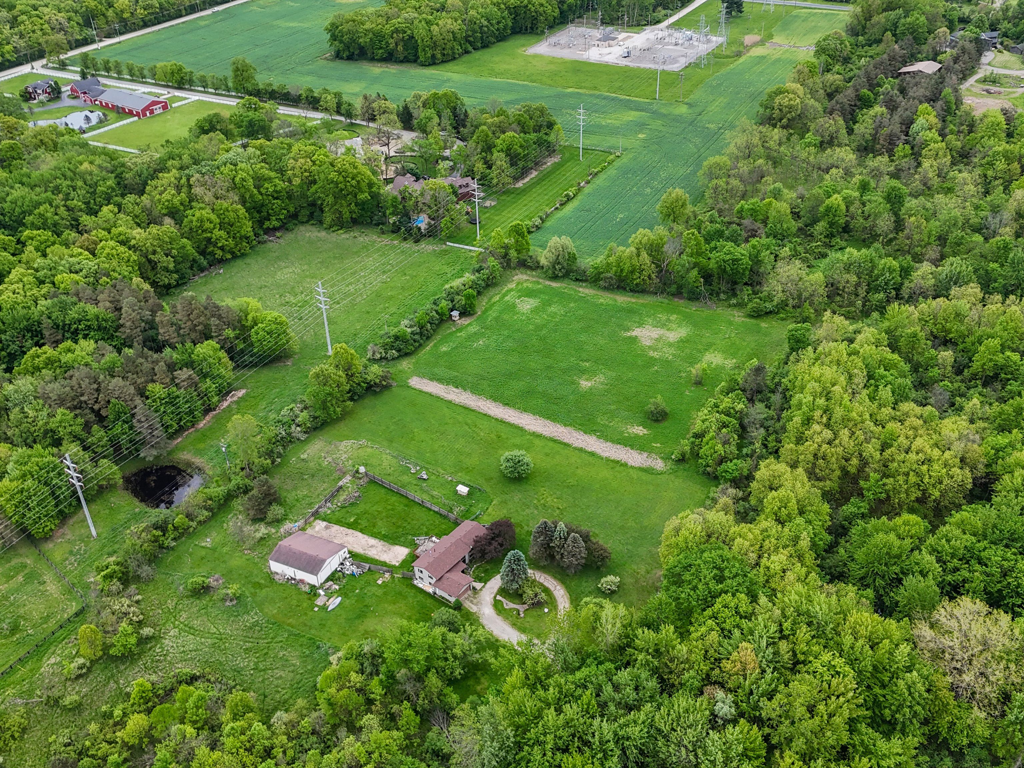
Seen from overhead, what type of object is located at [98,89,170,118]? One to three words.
barn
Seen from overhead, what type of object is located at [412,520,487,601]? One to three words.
house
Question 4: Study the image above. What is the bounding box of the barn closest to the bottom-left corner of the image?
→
[268,529,344,586]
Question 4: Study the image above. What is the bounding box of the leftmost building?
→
[25,80,55,102]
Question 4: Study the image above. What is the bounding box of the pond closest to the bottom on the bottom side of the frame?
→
[126,463,205,509]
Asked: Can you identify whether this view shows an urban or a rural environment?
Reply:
rural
